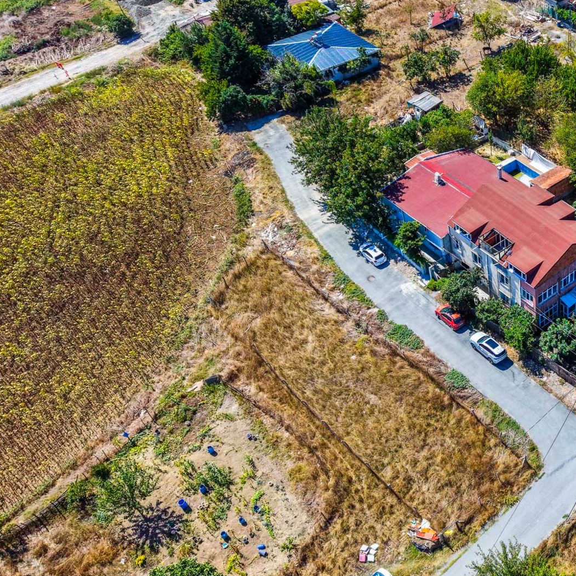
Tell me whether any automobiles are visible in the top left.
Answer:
No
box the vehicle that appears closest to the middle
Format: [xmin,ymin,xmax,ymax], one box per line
[358,241,392,267]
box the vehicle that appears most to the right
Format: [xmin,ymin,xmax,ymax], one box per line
[467,329,510,364]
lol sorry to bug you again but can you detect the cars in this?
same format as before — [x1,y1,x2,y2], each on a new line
[467,329,510,364]
[358,241,392,267]
[434,303,470,332]
[370,565,393,576]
